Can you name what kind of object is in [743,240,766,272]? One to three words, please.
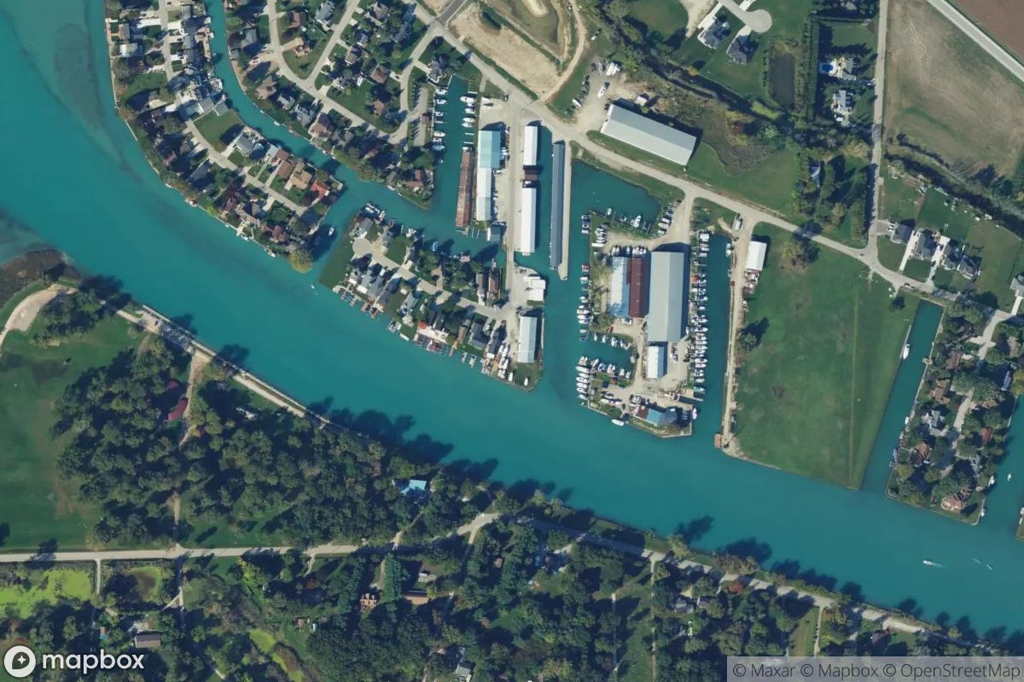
shed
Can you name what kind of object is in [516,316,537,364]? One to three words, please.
building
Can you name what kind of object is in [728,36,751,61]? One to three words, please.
house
